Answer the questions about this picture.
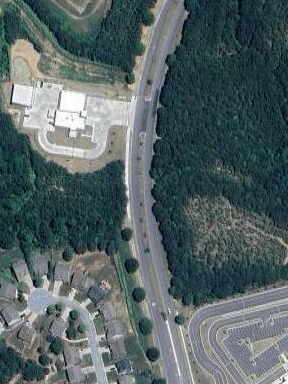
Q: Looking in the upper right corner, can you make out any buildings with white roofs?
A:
No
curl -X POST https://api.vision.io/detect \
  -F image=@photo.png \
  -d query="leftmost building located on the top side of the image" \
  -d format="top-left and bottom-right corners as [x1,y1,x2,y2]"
[12,85,33,108]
